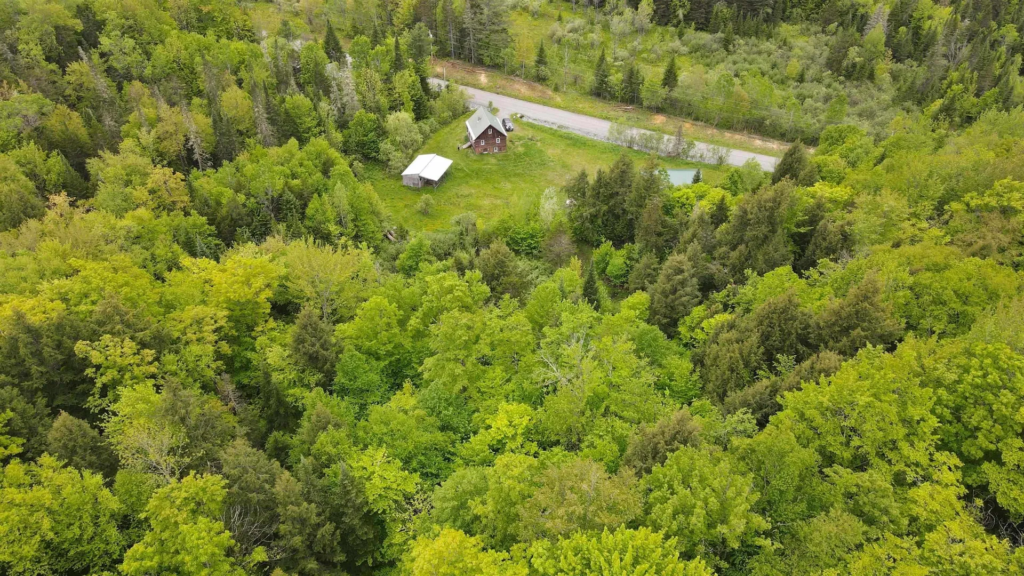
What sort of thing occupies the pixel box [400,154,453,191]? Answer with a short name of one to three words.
shed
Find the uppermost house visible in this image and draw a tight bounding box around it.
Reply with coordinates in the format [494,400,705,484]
[459,107,508,155]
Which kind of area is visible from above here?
forest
